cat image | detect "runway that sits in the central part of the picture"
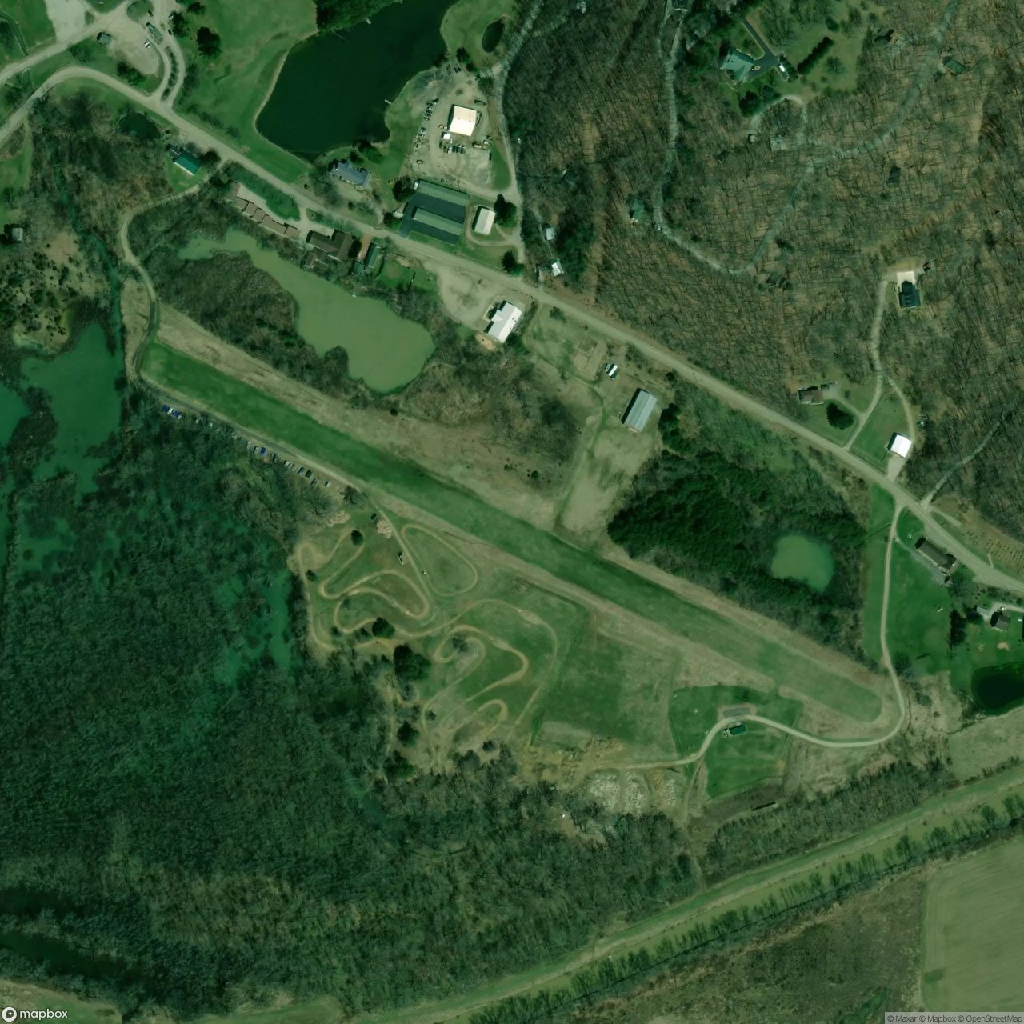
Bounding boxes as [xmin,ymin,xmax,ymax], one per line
[143,341,882,721]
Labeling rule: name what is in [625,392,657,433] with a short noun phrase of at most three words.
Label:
barn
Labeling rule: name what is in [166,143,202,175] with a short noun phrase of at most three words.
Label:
house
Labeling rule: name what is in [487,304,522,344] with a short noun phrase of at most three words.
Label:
building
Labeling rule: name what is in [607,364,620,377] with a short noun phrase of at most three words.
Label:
vehicle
